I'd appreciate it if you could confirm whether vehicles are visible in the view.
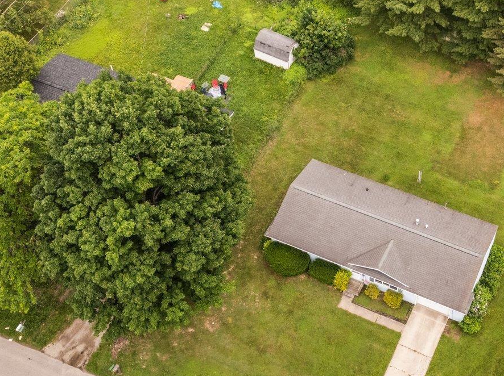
No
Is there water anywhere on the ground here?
No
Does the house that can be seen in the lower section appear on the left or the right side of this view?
right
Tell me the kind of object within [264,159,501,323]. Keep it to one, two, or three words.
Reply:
house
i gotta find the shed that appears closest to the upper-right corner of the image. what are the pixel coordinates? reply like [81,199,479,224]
[254,28,298,65]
